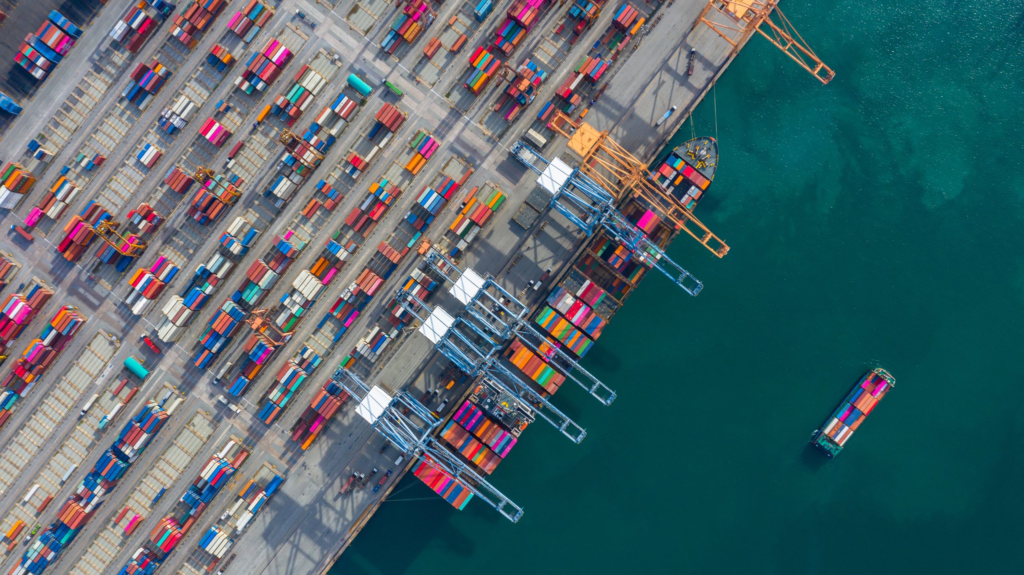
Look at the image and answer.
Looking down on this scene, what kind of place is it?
port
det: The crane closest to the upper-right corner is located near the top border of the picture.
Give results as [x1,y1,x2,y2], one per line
[689,0,841,84]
